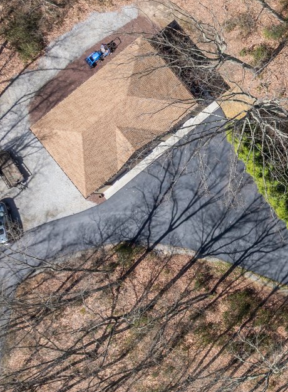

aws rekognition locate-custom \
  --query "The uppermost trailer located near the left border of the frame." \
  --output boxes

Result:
[0,150,25,192]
